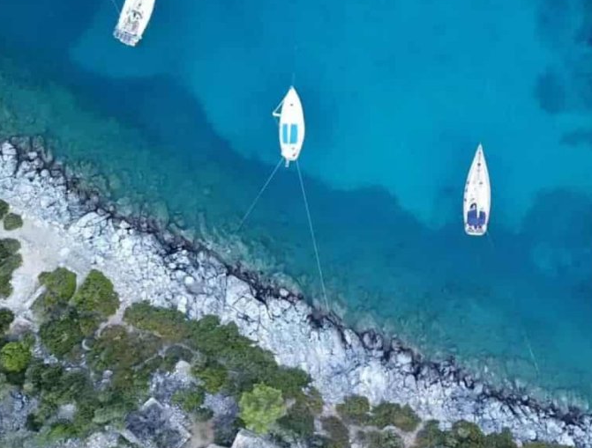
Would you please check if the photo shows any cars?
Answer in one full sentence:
No, there's no car here.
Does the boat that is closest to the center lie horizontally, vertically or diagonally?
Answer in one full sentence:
The boat that is closest to the center is laid out vertically.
